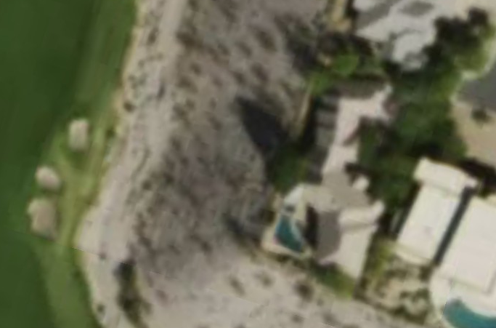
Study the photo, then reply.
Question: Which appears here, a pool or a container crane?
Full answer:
This aerial view contains a pool.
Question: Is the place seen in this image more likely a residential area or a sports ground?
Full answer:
The picture captures a residential area.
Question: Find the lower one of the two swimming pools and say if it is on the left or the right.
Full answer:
The lower one of the two swimming pools sits on the right side.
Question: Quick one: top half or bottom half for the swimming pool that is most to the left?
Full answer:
The swimming pool that is most to the left is in the bottom half of the image.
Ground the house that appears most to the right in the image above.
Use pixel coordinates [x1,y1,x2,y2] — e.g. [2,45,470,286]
[443,197,496,294]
